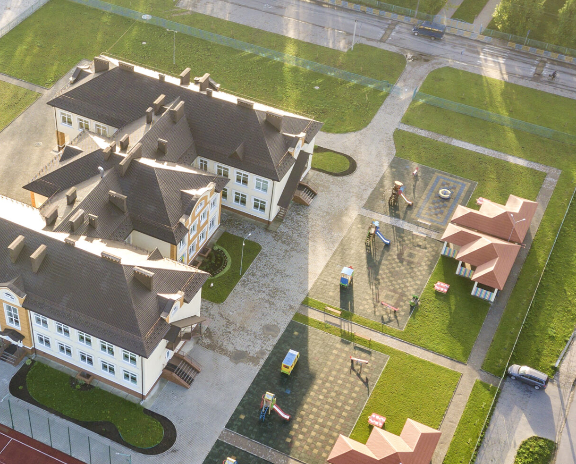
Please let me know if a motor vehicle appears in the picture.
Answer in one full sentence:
Yes, the frame does contain a motor vehicle.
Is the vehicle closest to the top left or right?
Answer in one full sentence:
You can find the vehicle closest to the top on the right side of the picture.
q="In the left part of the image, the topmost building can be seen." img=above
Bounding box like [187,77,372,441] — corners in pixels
[0,54,325,398]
